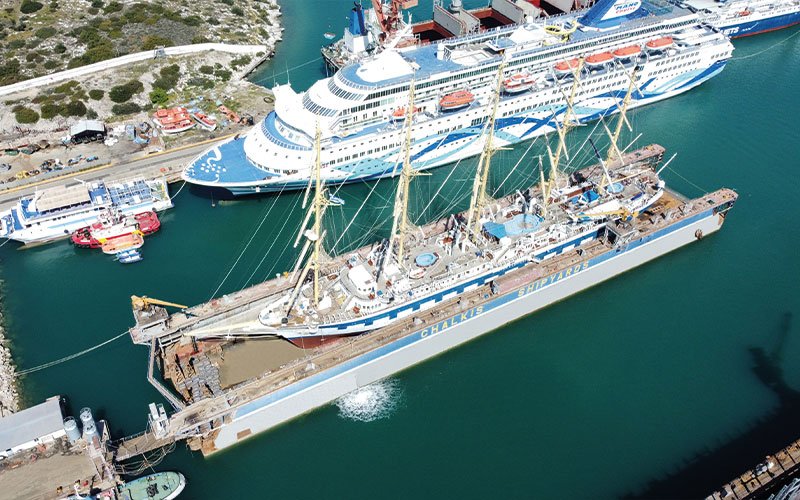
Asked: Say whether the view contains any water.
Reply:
Yes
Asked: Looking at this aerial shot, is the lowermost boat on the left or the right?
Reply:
left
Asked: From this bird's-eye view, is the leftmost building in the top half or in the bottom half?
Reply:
bottom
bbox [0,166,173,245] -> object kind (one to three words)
ship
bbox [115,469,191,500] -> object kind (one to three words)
boat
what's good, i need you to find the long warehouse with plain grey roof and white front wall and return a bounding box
[0,400,73,473]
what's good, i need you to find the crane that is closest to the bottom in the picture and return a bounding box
[124,288,193,322]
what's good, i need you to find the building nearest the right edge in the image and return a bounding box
[141,395,175,444]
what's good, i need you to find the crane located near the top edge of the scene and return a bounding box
[370,0,420,48]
